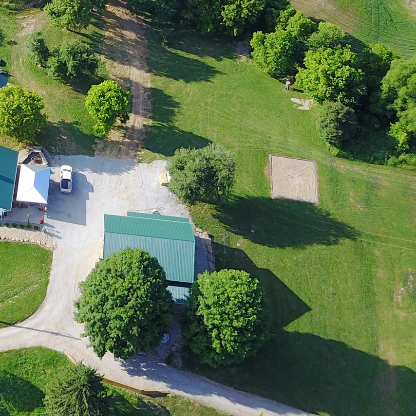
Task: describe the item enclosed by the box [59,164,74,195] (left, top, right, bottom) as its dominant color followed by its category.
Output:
white vehicle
